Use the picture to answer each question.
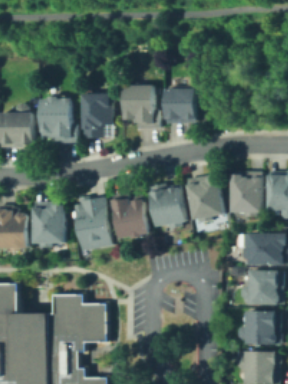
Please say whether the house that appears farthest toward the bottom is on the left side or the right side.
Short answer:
right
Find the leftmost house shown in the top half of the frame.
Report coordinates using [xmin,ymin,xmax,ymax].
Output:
[0,112,33,148]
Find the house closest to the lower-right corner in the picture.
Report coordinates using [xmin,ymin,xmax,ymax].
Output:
[242,354,286,384]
